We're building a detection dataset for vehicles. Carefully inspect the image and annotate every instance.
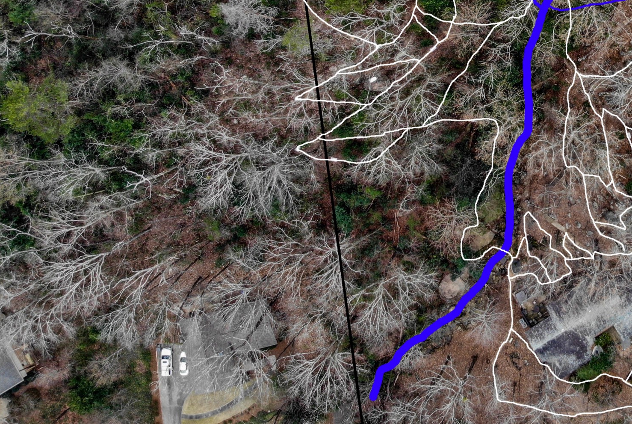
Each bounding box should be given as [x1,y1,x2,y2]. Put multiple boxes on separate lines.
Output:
[178,351,190,376]
[160,347,174,377]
